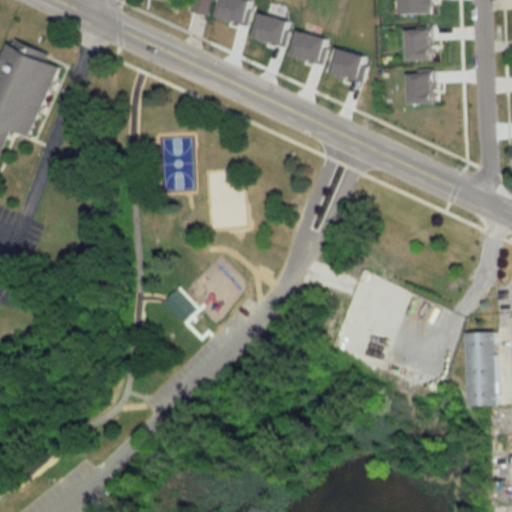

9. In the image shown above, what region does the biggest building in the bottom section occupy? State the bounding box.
[466,332,499,407]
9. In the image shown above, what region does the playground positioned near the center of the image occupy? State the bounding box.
[188,256,248,326]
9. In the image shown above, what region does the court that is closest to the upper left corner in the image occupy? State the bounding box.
[158,132,200,196]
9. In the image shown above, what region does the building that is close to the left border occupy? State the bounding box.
[0,41,58,152]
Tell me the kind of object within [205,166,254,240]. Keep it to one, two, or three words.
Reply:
sports court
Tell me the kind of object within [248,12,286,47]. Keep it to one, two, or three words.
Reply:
house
